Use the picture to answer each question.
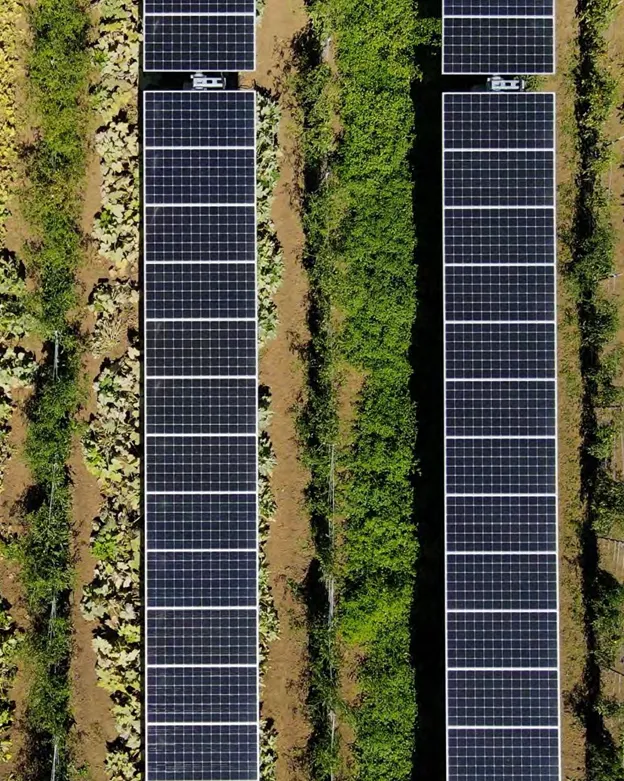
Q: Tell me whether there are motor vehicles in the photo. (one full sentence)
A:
No, no motor vehicle can be seen from above.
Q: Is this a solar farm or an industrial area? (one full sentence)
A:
It's a solar farm.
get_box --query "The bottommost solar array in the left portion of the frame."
[143,91,259,781]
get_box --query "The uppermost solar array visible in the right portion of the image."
[441,0,555,82]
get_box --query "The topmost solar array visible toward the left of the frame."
[143,0,256,79]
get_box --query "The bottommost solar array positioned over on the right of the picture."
[442,91,561,781]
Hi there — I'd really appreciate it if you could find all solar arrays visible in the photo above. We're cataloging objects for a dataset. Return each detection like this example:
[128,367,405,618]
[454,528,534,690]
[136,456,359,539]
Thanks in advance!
[441,0,555,82]
[143,0,256,79]
[442,91,561,781]
[143,91,259,781]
